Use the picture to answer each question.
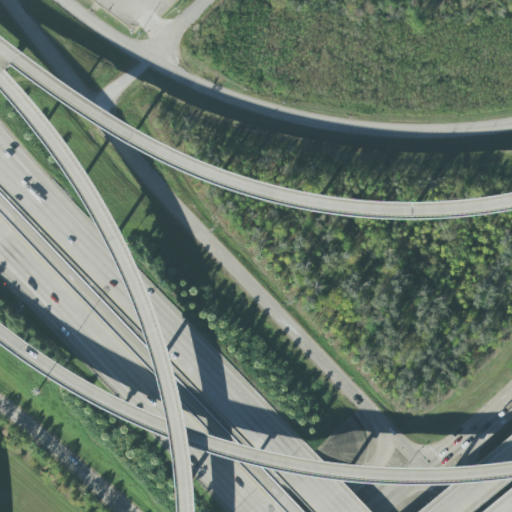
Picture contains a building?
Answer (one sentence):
No, no building can be seen from above.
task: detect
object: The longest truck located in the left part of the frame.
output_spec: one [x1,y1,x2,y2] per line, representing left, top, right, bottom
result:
[24,180,46,204]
